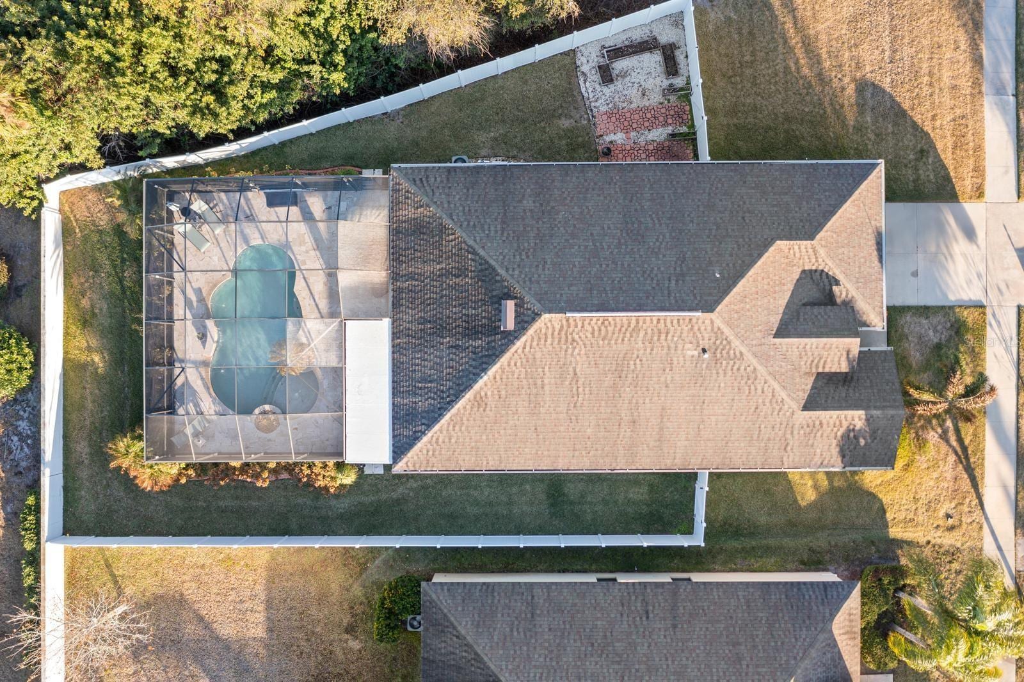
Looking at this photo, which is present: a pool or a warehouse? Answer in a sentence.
Visible in the photo is a pool.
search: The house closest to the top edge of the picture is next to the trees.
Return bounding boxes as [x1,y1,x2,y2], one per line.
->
[387,157,908,476]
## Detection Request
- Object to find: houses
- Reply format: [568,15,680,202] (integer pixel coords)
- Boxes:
[420,573,863,682]
[387,157,908,476]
